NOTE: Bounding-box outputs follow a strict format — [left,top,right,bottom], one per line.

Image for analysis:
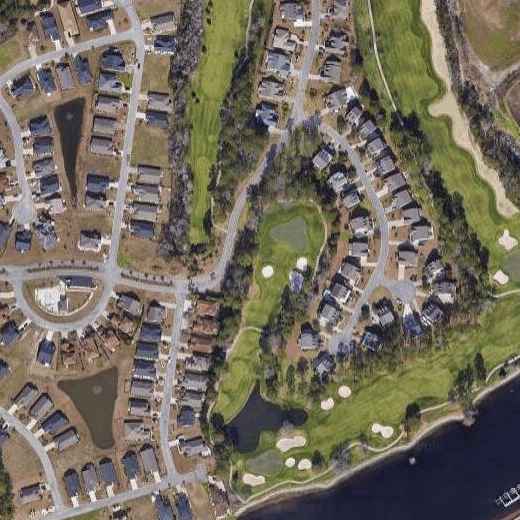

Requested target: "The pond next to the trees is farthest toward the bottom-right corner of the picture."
[226,380,307,453]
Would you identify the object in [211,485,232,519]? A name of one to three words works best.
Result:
house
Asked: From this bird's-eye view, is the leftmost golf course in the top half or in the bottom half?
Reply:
top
